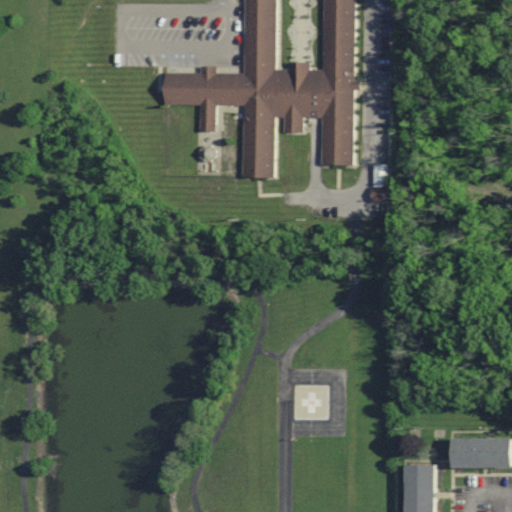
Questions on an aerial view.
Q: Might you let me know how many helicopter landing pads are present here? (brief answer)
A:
one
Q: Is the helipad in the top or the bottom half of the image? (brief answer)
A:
bottom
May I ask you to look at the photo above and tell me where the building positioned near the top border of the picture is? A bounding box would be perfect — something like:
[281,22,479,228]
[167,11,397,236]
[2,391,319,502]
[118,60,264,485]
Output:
[161,0,360,178]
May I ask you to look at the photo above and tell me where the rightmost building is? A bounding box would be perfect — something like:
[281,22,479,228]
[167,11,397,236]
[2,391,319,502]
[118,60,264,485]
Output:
[450,438,512,468]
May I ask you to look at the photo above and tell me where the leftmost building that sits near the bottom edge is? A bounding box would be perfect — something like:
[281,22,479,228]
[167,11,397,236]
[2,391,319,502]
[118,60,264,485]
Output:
[404,464,438,512]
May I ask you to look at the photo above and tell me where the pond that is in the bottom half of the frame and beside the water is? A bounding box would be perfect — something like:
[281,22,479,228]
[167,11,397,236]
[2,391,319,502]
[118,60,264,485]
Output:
[49,295,228,512]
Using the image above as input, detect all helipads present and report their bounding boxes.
[291,369,346,436]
